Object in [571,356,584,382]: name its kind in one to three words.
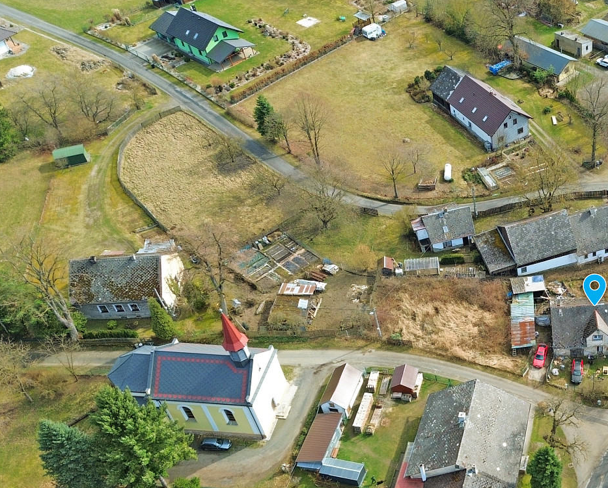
vehicle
